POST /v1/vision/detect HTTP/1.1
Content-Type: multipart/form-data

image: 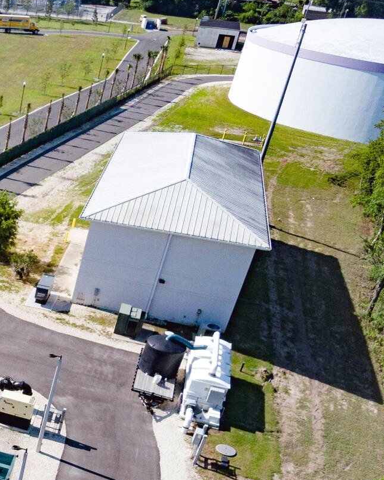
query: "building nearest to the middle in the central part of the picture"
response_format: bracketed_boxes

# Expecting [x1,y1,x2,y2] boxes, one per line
[69,130,273,334]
